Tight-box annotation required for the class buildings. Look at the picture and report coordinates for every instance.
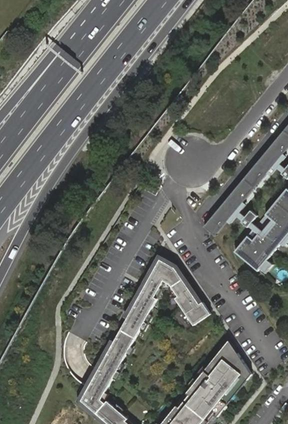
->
[202,125,288,236]
[75,256,212,424]
[236,188,288,274]
[162,342,253,424]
